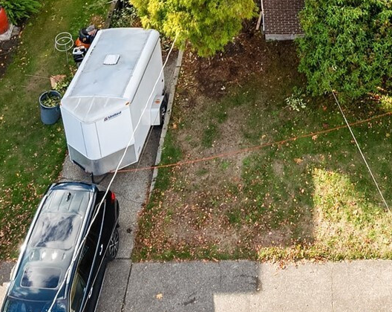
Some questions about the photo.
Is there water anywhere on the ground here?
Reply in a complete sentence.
No, no water is visible.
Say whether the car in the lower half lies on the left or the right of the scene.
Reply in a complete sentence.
You can find the car in the lower half on the left side of the picture.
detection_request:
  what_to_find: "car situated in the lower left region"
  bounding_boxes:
[2,186,117,312]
